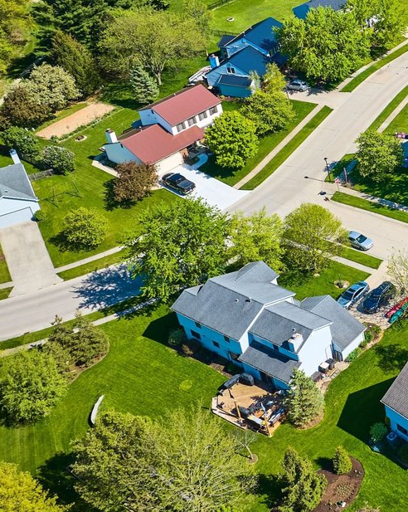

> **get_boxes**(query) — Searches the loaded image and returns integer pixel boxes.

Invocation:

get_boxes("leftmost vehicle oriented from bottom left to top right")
[344,277,375,307]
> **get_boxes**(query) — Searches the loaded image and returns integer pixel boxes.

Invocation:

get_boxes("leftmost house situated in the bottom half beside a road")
[169,262,368,395]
